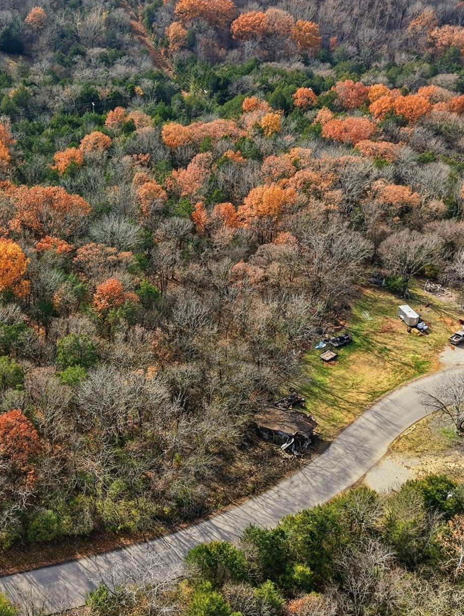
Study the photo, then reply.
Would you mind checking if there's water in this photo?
No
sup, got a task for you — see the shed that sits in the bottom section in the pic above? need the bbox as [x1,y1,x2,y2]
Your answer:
[254,404,319,451]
